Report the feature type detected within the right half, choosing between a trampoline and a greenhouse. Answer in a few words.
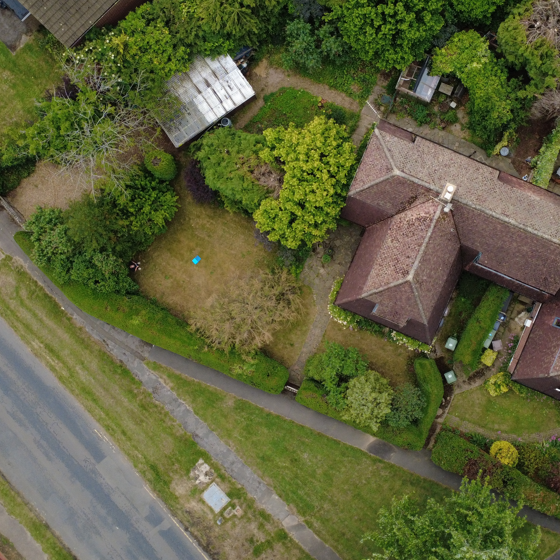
greenhouse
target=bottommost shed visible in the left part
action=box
[150,54,257,152]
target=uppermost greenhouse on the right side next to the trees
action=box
[393,58,441,107]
